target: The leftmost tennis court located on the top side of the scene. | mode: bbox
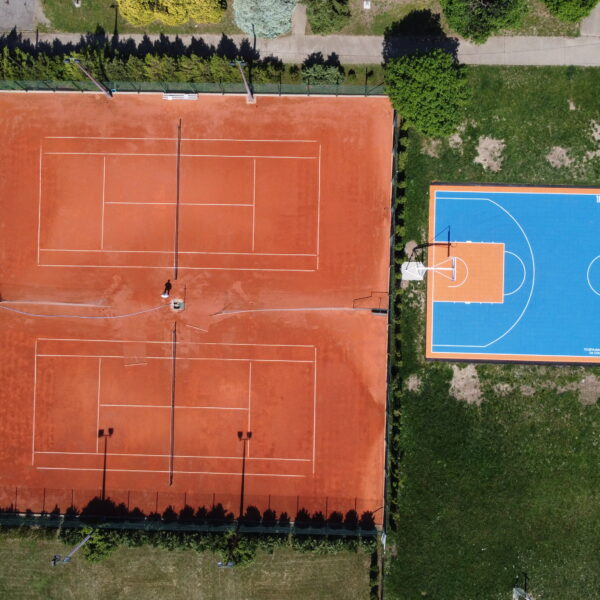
[0,91,392,310]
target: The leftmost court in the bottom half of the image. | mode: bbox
[0,301,388,525]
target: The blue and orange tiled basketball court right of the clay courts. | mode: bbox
[427,183,600,366]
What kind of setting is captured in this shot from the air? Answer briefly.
sports ground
